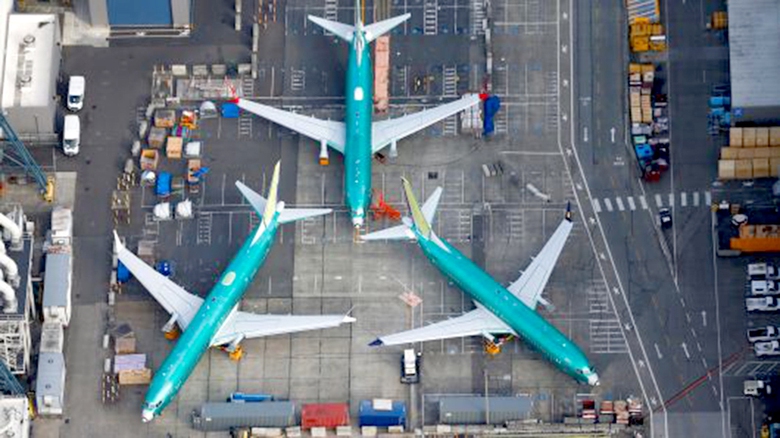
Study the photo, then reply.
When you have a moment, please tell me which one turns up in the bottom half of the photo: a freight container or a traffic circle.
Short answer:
freight container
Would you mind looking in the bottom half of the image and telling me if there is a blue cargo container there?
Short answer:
Yes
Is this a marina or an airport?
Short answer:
airport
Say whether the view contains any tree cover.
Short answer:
No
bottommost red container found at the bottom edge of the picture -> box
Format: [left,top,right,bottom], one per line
[302,402,350,427]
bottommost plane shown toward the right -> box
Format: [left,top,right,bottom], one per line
[366,178,598,385]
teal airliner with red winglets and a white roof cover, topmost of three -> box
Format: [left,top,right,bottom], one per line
[229,0,488,228]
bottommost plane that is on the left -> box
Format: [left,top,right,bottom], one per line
[110,160,359,420]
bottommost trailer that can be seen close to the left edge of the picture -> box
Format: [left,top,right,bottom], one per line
[34,353,69,413]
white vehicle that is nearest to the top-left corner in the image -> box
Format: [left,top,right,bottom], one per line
[66,76,84,109]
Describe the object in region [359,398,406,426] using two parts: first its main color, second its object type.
blue shipping container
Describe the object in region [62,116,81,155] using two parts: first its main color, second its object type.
white vehicle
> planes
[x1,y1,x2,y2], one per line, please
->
[229,0,488,228]
[366,178,598,385]
[110,160,359,420]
